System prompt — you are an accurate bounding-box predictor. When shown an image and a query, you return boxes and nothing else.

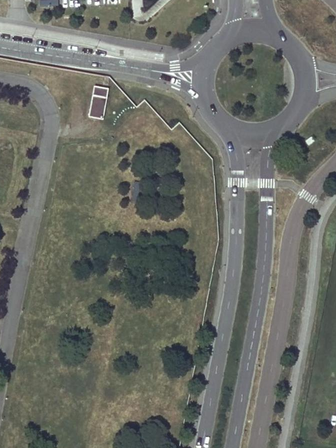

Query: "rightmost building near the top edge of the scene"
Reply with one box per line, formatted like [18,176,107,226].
[132,0,167,21]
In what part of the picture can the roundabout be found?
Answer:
top right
